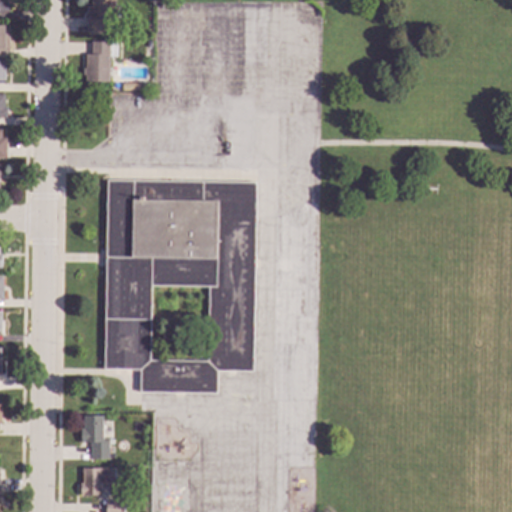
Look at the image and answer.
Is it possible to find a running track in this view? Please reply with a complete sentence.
No, I find no running track anywhere in the image.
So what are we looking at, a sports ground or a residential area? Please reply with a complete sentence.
The area seen from above is a residential area.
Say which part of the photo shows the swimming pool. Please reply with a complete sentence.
The swimming pool is in the top left part of the image.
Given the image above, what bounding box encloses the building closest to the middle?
[104,180,257,392]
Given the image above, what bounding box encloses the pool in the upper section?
[112,60,150,83]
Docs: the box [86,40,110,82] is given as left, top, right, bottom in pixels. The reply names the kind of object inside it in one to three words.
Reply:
house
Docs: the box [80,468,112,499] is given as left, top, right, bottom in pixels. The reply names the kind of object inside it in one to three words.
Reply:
house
